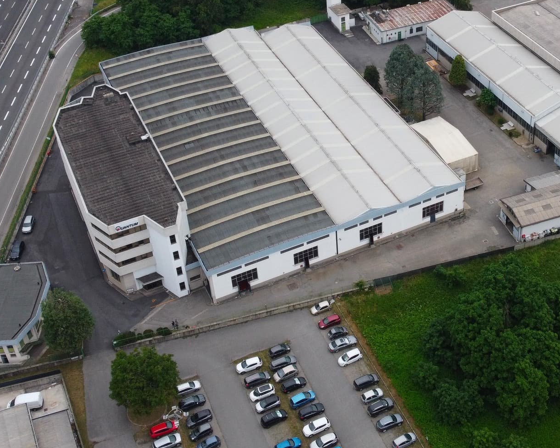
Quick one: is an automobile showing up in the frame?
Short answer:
Yes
